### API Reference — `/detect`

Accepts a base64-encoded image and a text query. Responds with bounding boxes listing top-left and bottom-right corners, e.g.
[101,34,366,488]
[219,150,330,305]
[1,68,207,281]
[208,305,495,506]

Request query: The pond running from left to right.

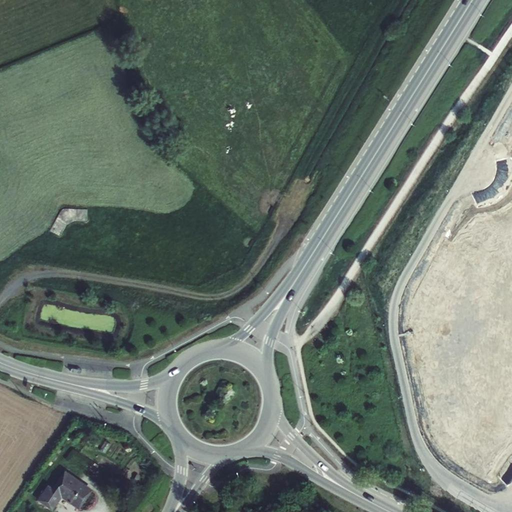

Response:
[34,299,123,338]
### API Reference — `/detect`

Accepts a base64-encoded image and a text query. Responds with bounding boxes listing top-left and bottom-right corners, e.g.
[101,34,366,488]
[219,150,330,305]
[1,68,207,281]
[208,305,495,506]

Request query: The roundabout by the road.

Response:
[157,340,282,465]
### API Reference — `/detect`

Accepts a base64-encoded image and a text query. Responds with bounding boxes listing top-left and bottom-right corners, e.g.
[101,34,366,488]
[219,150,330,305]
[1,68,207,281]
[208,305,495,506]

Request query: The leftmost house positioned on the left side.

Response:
[39,471,92,512]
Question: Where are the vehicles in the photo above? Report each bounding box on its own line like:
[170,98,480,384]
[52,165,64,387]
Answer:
[362,491,374,502]
[70,368,82,374]
[318,461,329,471]
[168,368,180,376]
[132,404,146,412]
[286,289,296,302]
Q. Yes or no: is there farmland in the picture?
Yes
